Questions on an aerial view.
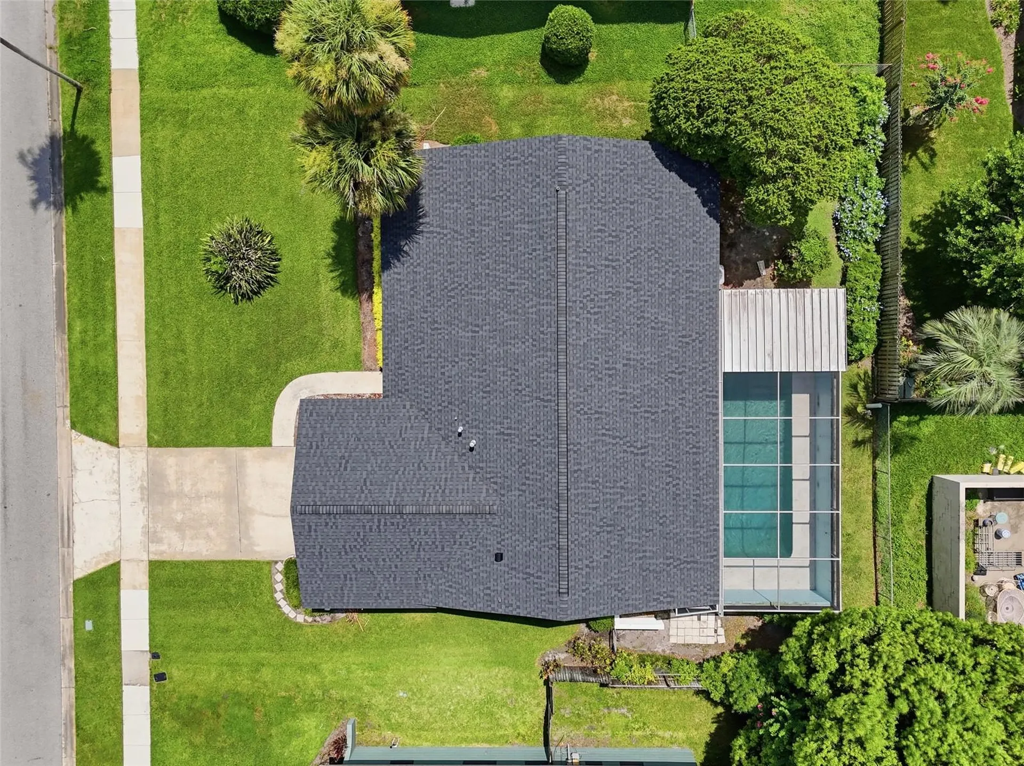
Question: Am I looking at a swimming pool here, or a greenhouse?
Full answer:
The one in the frame is a swimming pool.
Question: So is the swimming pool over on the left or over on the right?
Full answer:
The swimming pool appears in the right half of the scene.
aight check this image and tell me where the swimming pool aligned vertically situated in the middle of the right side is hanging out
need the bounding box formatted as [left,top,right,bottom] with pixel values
[722,361,793,558]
